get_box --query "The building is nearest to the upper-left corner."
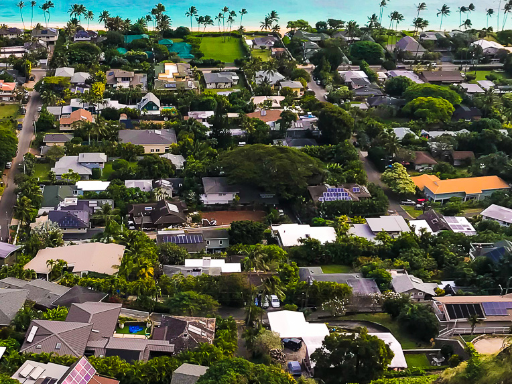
[0,26,29,45]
